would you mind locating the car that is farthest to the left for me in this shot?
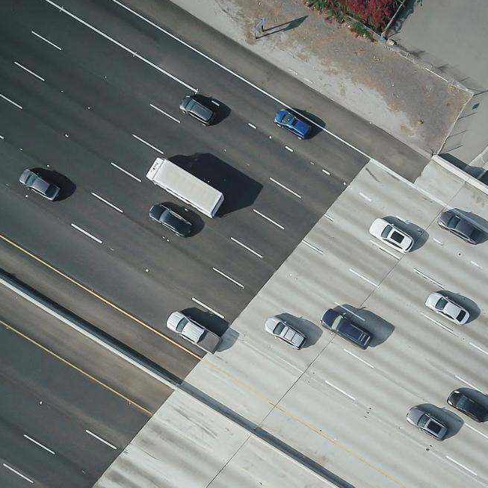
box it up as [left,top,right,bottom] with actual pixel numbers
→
[19,169,62,202]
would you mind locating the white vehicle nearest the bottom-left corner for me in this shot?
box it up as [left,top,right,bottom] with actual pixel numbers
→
[166,312,223,355]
